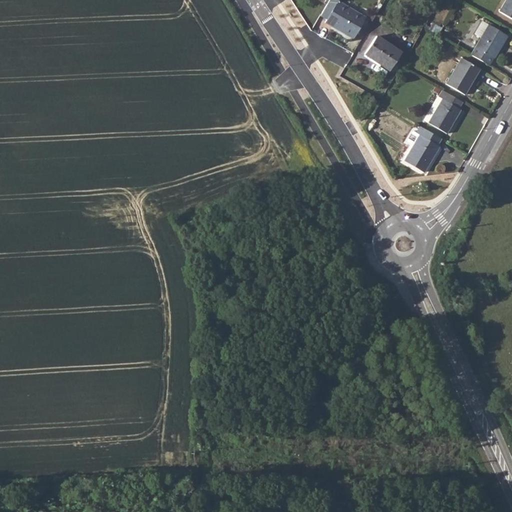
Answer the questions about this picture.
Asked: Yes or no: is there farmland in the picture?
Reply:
Yes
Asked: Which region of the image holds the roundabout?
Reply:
right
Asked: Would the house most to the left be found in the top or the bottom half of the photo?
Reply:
top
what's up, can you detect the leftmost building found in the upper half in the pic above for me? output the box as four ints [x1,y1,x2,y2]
[320,0,367,40]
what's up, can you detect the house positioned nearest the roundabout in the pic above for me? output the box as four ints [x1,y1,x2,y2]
[400,128,444,172]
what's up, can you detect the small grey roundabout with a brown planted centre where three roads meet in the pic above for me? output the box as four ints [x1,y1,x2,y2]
[375,214,434,274]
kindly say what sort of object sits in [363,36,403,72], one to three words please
house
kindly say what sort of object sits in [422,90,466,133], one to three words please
house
